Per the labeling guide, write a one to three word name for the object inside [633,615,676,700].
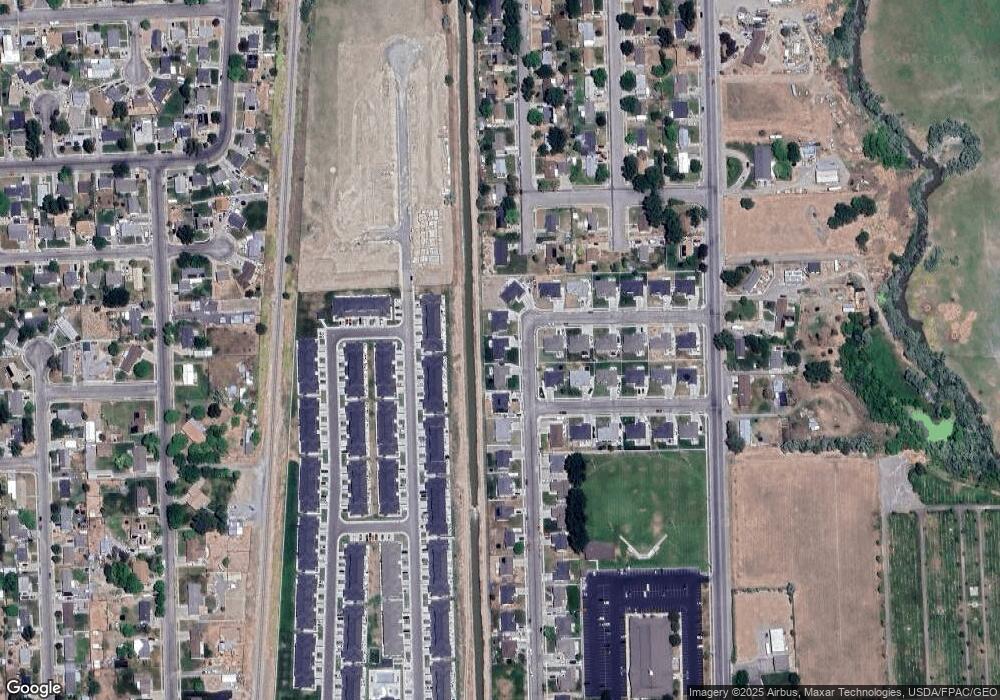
building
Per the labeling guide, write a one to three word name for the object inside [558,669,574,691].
house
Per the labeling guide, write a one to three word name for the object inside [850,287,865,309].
house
